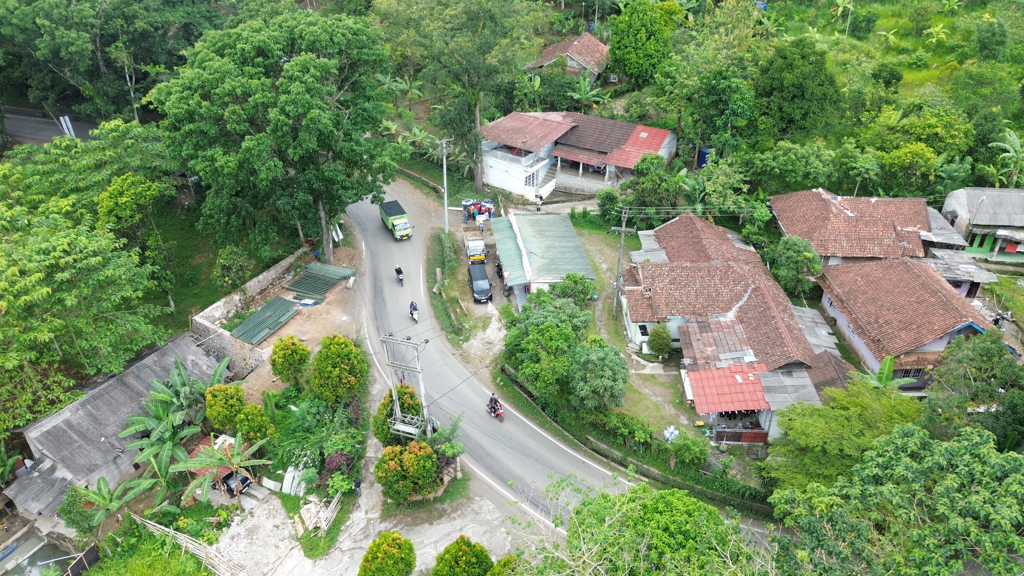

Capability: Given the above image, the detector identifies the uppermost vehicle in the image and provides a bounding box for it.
[377,197,414,241]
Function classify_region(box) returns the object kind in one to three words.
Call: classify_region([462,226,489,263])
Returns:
truck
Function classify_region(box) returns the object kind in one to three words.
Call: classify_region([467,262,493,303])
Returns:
vehicle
